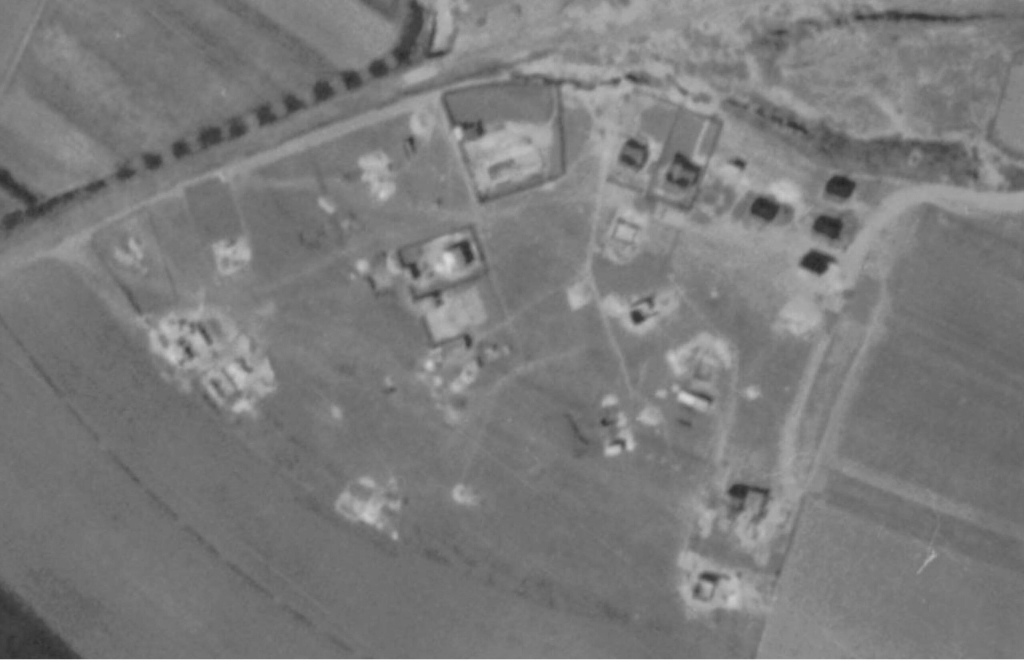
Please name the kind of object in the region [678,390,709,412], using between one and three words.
barn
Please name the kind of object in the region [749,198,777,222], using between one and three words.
house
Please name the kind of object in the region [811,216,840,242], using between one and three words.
house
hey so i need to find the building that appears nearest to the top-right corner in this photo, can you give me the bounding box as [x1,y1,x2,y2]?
[824,177,854,201]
